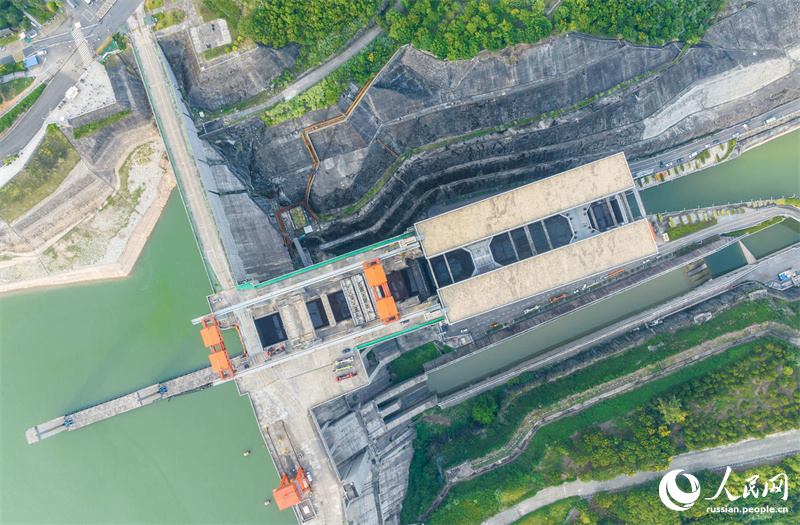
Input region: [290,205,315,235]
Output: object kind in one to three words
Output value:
building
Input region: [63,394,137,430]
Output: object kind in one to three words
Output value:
pier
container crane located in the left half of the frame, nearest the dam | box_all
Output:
[198,312,247,386]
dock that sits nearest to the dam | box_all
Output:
[156,366,211,399]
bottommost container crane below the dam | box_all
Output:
[273,452,315,512]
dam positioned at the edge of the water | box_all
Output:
[130,22,299,295]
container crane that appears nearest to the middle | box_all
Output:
[359,257,398,327]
